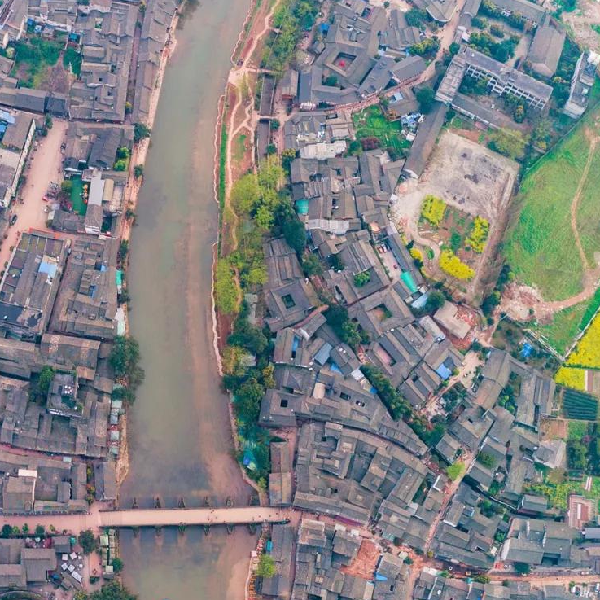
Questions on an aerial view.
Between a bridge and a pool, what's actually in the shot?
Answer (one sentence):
This aerial view contains a bridge.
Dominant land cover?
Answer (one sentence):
The scene is dominated by buildings.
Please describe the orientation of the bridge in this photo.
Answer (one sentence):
The bridge has been laid out horizontally relative to the frame.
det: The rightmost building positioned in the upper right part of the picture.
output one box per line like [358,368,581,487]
[556,52,599,122]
